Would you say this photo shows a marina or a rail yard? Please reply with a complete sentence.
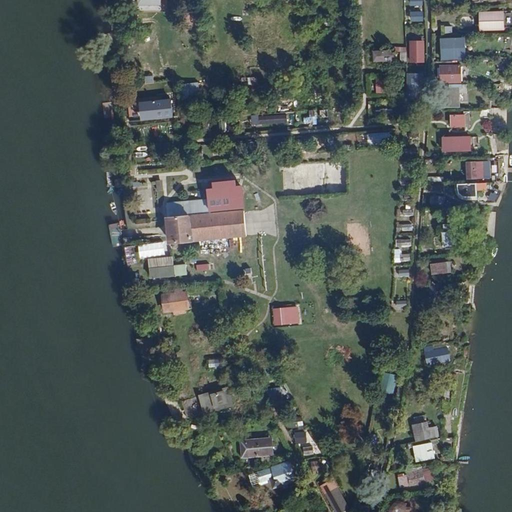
The picture captures a marina.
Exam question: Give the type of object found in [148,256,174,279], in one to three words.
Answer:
shed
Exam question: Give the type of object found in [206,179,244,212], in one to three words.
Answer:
building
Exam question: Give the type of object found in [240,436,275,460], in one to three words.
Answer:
house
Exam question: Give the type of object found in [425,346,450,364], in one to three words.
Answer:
house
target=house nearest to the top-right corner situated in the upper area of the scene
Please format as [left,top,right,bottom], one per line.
[478,11,506,32]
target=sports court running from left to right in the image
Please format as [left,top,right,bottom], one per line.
[282,163,347,196]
